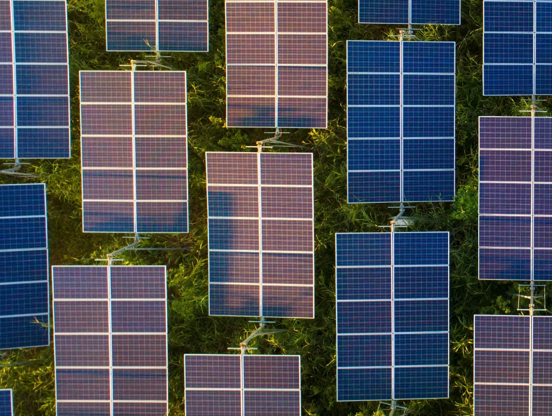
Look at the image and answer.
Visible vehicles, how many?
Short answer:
0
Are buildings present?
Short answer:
No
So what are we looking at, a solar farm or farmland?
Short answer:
solar farm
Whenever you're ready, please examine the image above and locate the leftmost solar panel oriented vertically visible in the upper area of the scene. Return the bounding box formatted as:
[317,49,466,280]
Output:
[0,0,70,165]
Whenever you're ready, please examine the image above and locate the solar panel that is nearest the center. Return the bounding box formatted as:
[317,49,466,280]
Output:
[206,141,314,324]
